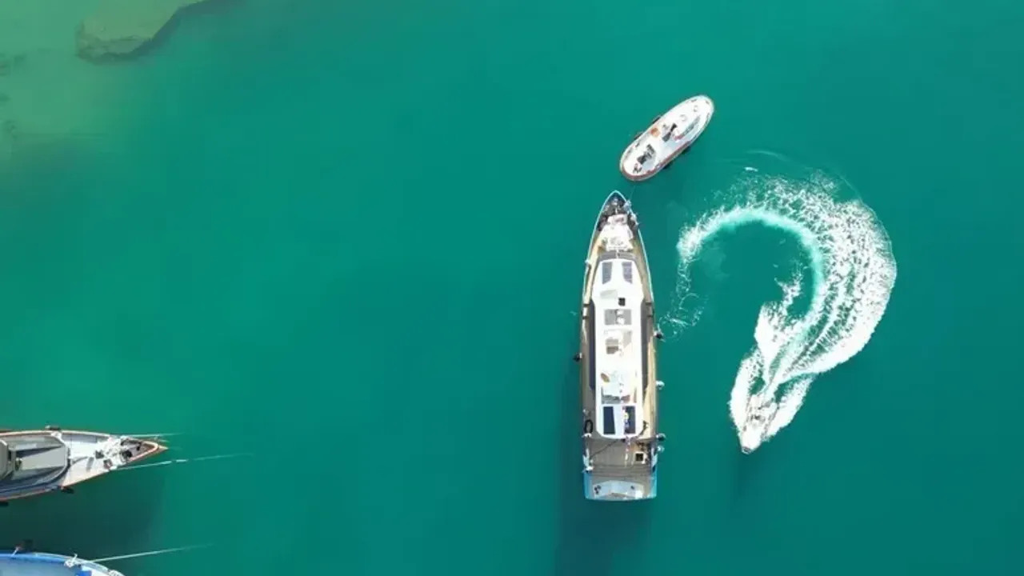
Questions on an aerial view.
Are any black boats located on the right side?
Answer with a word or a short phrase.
No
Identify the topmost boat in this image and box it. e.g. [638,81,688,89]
[617,93,715,185]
